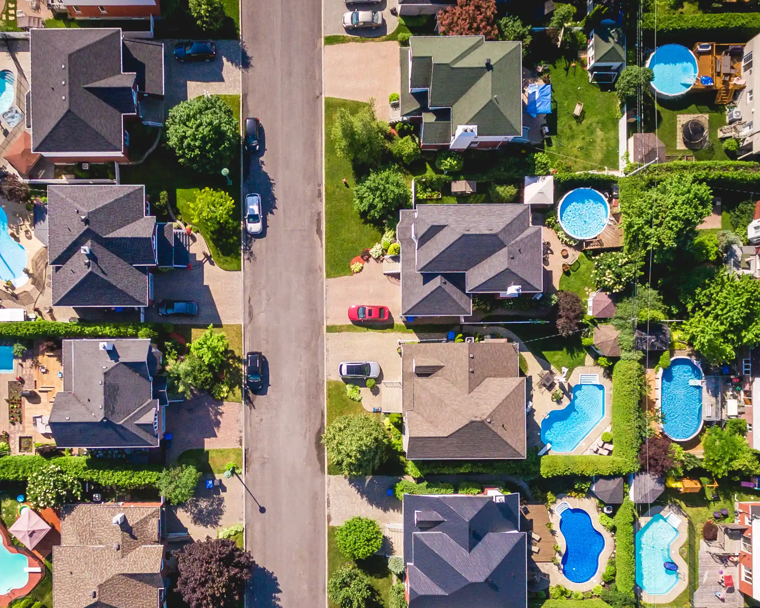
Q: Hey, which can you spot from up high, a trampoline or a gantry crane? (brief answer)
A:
trampoline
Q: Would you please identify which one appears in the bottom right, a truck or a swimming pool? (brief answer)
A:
swimming pool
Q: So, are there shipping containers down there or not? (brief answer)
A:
No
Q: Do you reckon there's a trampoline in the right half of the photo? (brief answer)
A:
Yes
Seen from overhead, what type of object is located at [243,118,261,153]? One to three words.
car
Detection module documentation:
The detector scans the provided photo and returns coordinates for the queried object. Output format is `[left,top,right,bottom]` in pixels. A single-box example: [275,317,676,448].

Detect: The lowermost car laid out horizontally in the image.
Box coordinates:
[338,362,380,378]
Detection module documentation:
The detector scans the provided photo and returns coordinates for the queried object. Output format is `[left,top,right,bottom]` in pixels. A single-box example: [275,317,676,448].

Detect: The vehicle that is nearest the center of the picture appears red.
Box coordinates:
[348,305,390,323]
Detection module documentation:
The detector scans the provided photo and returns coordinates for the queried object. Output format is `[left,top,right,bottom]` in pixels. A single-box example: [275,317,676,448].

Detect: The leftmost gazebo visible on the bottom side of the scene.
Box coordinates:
[8,506,56,550]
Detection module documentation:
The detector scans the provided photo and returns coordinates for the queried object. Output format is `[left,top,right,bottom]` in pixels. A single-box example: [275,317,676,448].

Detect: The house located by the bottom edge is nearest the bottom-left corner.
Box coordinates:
[53,505,169,608]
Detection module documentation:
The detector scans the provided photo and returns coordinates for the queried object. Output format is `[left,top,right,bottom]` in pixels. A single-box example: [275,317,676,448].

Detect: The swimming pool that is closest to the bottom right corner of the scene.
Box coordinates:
[632,510,687,598]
